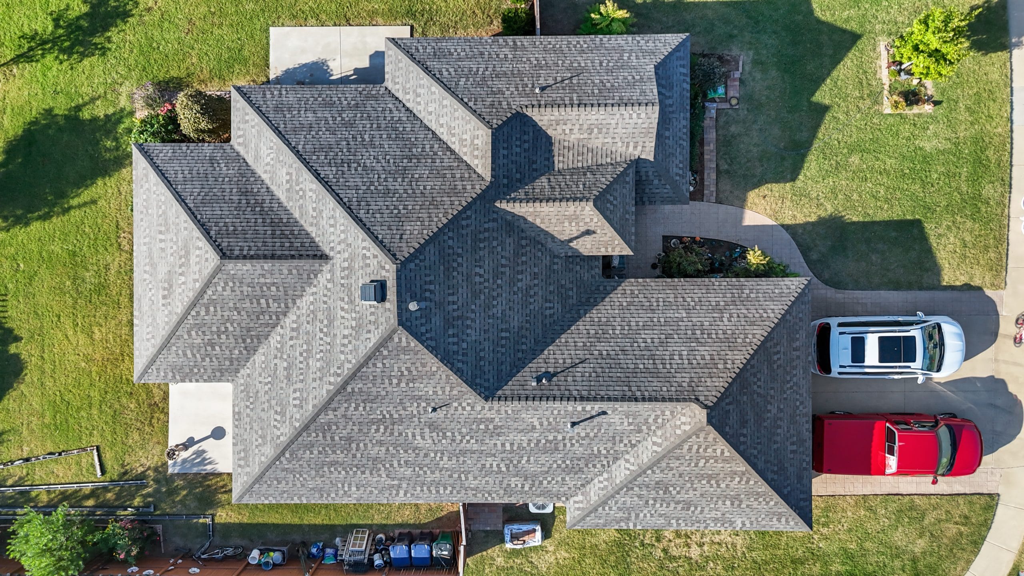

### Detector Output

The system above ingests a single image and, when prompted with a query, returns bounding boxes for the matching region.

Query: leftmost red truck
[812,407,982,488]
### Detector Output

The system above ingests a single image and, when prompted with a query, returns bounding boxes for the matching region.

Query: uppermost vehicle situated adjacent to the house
[812,309,966,385]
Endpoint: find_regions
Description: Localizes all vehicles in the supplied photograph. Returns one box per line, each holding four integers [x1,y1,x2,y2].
[812,407,982,488]
[812,309,966,385]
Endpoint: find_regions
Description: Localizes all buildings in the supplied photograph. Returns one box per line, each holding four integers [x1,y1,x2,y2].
[131,35,813,532]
